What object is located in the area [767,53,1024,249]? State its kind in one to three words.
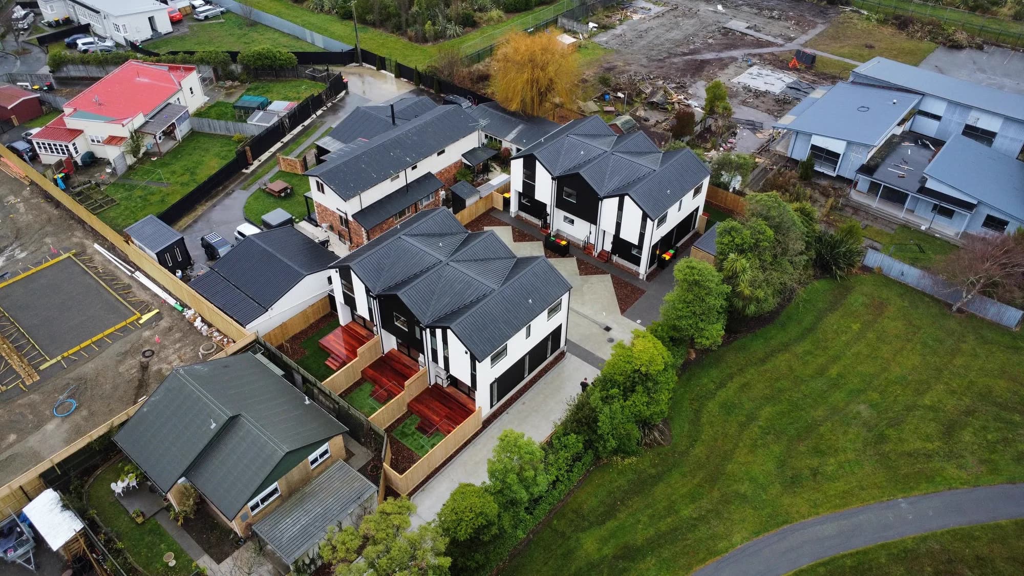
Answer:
building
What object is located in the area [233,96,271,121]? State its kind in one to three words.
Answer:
house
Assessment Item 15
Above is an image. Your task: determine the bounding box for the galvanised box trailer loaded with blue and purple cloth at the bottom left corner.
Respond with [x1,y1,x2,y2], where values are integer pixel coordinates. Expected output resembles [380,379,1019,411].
[0,502,37,571]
